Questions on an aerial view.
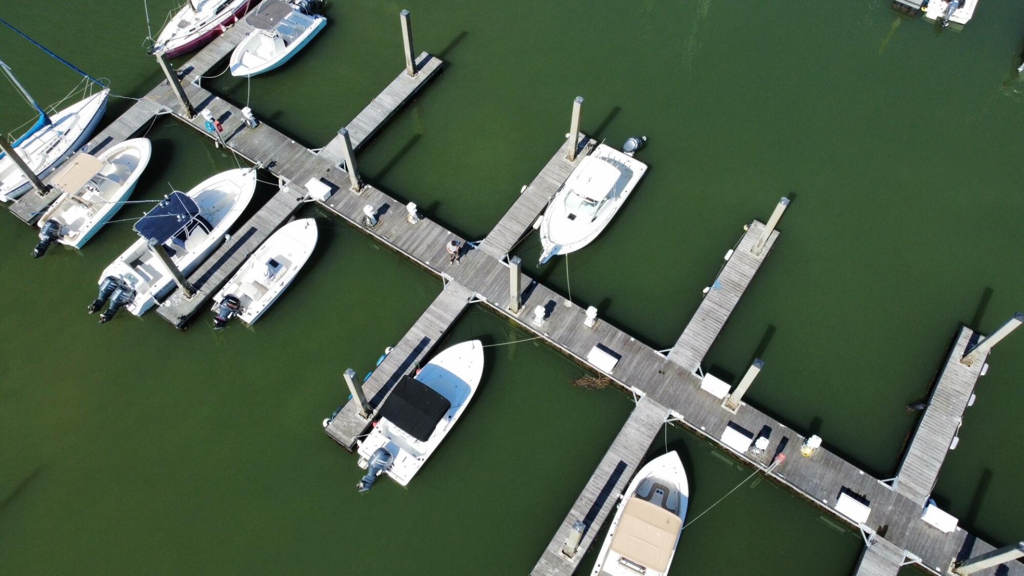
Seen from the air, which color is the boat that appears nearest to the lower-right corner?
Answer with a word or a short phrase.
white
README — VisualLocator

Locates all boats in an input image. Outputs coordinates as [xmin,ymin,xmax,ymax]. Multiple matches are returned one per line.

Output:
[924,0,982,37]
[353,336,488,507]
[34,139,154,267]
[141,0,263,57]
[586,448,687,576]
[226,0,332,80]
[210,218,323,334]
[0,14,107,216]
[41,157,257,331]
[536,136,648,258]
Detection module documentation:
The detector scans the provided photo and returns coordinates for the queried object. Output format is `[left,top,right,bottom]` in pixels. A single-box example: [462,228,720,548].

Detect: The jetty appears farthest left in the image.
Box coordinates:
[6,97,172,228]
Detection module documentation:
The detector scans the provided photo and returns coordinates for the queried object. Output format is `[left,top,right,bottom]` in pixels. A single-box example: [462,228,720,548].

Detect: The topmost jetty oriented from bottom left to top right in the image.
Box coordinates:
[175,4,263,87]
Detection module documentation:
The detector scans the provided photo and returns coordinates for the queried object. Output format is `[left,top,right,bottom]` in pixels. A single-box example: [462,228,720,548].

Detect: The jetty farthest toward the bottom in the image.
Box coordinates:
[845,523,918,576]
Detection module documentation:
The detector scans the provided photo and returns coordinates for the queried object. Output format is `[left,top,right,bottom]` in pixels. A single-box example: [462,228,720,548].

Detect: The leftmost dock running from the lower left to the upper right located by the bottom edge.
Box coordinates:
[524,387,682,576]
